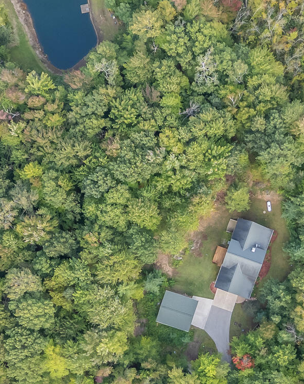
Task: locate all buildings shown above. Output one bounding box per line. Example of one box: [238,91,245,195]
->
[215,218,274,299]
[156,290,199,332]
